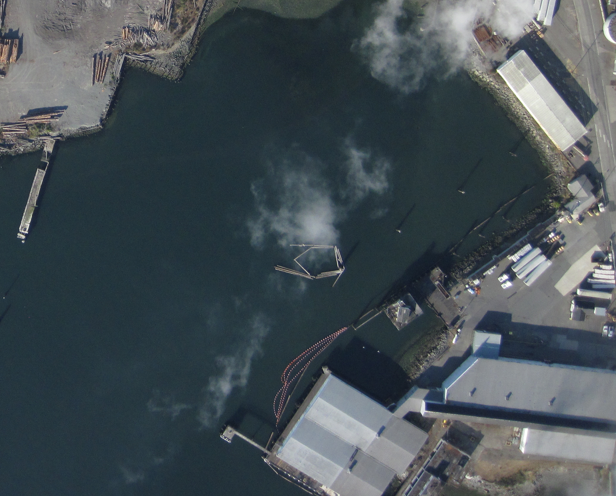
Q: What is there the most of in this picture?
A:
water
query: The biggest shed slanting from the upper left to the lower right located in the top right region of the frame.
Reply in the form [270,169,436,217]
[493,50,587,151]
